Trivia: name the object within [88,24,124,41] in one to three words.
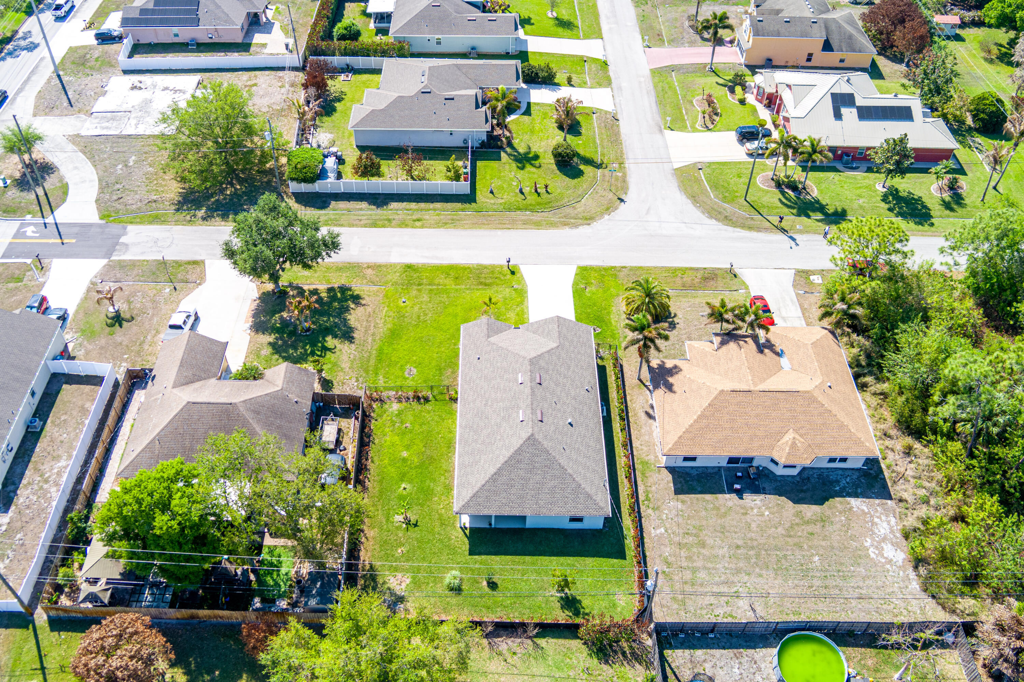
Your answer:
car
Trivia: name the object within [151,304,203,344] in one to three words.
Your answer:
truck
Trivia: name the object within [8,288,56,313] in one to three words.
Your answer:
car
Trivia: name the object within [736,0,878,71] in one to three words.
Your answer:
house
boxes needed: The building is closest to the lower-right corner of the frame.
[645,326,882,478]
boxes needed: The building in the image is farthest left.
[0,305,76,485]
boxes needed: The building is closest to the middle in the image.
[452,315,613,530]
